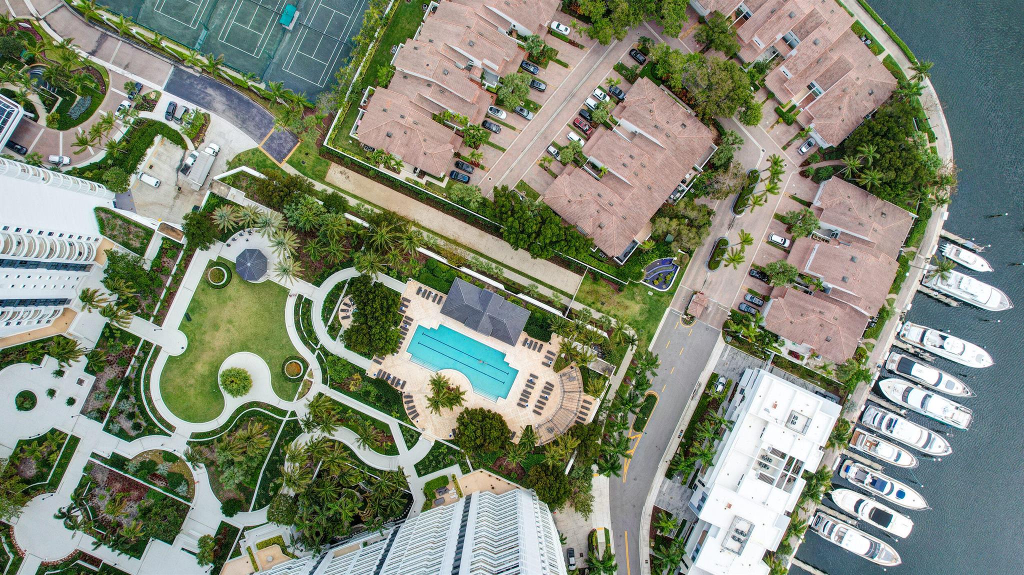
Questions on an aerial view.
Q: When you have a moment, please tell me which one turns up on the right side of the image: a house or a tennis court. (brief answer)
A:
house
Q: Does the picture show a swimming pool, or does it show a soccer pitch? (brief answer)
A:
swimming pool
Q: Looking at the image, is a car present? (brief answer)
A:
Yes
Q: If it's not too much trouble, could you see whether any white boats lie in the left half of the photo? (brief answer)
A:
No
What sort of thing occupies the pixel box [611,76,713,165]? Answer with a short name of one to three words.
house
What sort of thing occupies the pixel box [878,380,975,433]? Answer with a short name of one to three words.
boat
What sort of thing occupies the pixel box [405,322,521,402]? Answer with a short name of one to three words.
swimming pool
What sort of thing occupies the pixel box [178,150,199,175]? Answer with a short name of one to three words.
truck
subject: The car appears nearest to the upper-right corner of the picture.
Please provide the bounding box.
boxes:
[798,140,814,156]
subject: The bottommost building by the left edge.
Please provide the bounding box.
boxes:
[0,159,102,338]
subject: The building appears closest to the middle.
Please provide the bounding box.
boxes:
[440,277,531,347]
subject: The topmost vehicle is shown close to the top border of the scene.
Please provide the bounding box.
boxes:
[550,21,571,36]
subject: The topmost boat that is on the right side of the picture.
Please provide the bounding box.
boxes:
[940,243,998,271]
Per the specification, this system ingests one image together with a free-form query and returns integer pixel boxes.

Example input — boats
[878,380,975,433]
[835,458,934,511]
[847,430,922,467]
[829,489,912,539]
[895,318,999,366]
[940,243,998,271]
[916,269,1018,310]
[856,407,957,454]
[807,512,907,566]
[882,351,979,398]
